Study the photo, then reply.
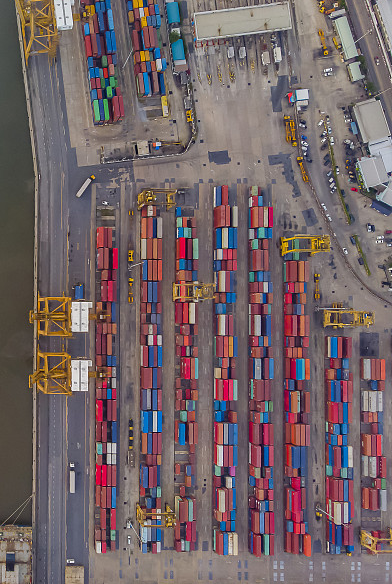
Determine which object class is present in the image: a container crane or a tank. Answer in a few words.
container crane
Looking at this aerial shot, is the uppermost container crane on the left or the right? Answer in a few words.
left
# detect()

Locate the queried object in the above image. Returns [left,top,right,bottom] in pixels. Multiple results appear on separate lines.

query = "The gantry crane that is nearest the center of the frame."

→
[166,283,215,300]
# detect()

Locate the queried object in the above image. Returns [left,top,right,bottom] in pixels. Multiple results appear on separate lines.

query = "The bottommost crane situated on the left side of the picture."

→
[130,495,177,522]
